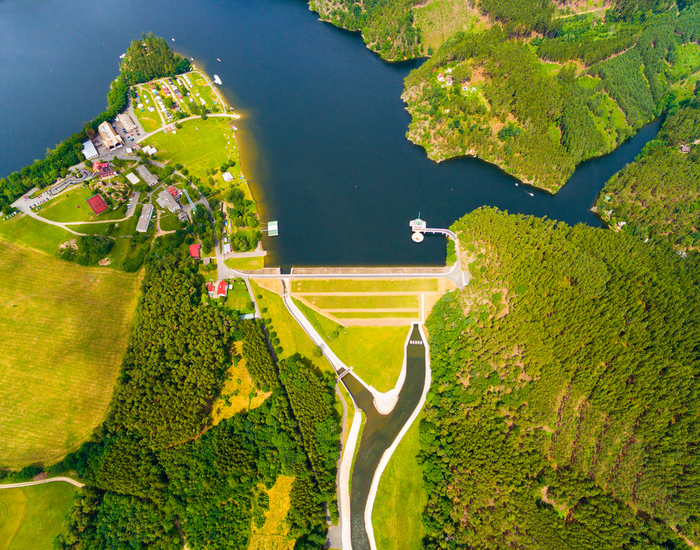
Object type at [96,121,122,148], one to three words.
building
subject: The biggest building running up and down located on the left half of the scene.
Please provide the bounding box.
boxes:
[137,203,156,234]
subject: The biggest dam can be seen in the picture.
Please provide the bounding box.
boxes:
[231,265,456,327]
